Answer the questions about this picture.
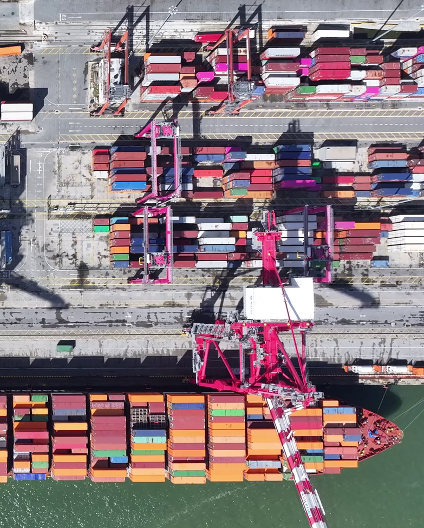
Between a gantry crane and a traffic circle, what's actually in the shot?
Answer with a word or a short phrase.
gantry crane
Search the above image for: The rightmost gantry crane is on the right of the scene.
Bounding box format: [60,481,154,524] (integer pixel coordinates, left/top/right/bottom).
[277,210,332,284]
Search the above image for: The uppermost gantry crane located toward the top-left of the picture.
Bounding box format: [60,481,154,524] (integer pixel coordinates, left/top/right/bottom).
[91,30,134,116]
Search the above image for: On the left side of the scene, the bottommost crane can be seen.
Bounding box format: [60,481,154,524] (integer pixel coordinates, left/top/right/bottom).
[128,210,171,284]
